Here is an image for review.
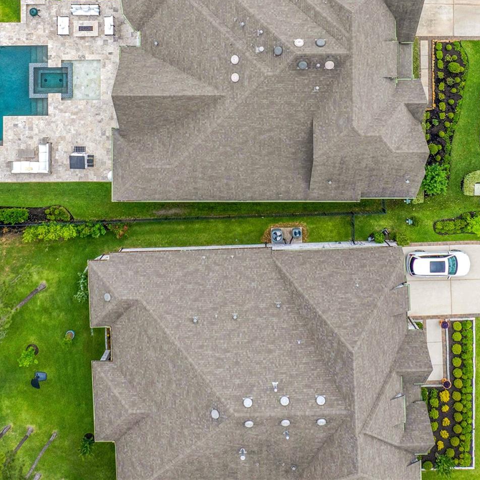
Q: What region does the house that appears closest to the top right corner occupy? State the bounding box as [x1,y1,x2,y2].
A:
[111,0,429,202]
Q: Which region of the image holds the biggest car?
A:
right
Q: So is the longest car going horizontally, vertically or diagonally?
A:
horizontally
